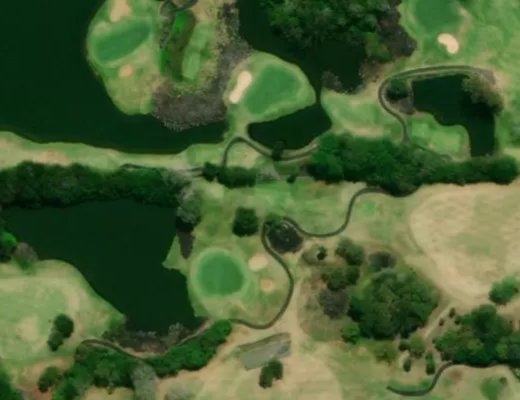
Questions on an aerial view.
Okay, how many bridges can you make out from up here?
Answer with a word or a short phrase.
0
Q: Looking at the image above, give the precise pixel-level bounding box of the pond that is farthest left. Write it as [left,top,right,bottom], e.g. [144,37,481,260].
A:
[238,0,367,150]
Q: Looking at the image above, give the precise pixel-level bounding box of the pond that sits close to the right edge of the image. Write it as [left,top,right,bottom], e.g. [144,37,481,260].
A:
[412,73,497,161]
